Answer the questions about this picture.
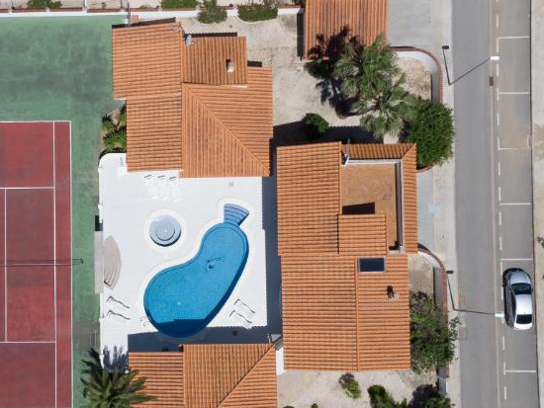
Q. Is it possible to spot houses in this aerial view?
Yes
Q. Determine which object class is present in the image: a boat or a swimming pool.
swimming pool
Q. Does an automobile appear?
Yes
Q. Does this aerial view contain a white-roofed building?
No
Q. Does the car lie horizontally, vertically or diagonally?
vertically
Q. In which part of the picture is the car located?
bottom right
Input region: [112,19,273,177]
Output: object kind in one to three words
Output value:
house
